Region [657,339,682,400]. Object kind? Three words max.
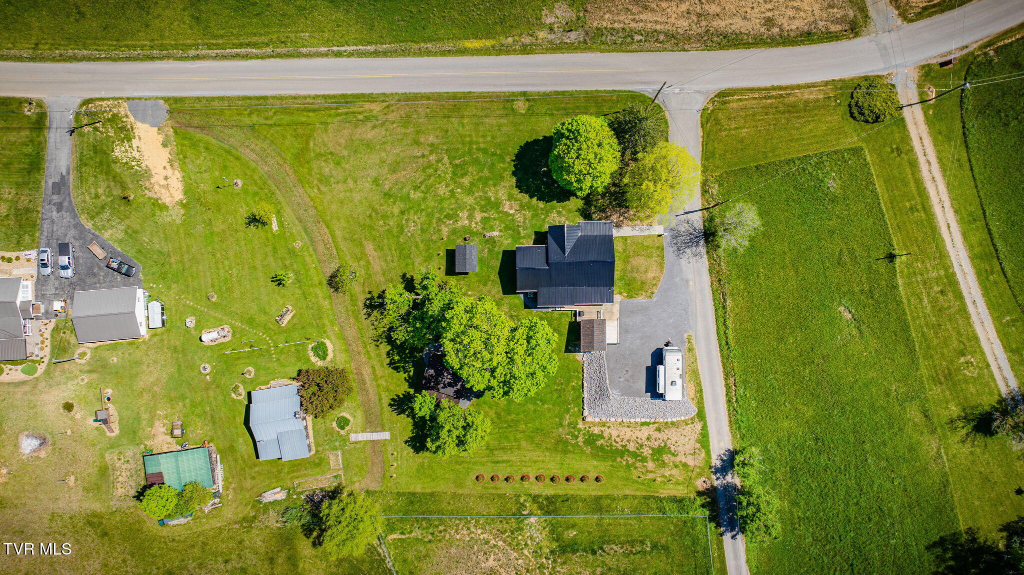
trailer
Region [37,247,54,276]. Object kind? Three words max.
car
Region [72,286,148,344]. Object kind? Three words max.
building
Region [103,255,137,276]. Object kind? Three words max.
truck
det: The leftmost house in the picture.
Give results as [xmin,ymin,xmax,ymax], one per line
[0,277,44,360]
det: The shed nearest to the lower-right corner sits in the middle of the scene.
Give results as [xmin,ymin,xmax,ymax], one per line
[581,319,607,352]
